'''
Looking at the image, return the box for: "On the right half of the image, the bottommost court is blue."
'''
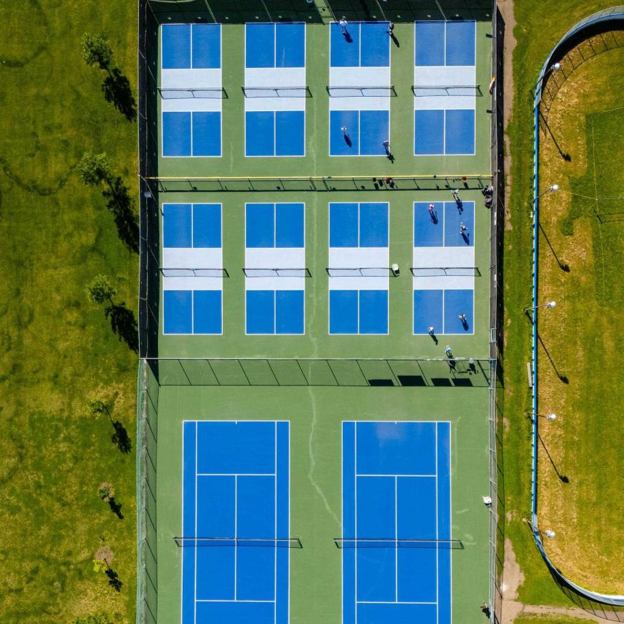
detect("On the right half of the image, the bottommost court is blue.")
[342,422,451,624]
